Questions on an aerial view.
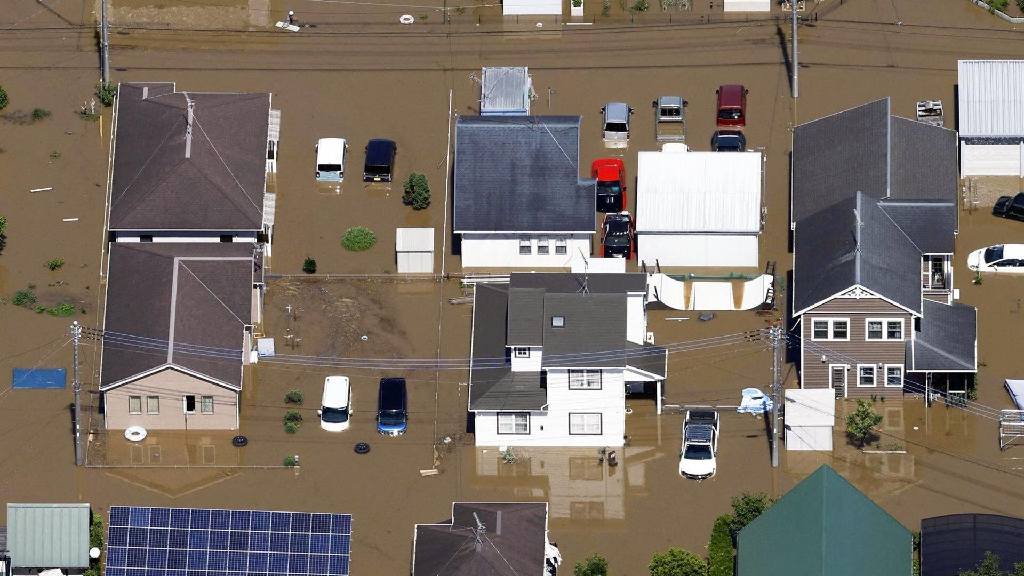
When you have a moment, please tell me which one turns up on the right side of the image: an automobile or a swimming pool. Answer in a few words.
automobile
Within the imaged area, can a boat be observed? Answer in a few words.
No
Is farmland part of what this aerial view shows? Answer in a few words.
No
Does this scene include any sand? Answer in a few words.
No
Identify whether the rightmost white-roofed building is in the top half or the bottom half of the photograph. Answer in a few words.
top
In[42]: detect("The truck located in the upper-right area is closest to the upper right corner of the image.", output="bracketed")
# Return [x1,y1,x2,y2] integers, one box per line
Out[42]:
[917,103,943,127]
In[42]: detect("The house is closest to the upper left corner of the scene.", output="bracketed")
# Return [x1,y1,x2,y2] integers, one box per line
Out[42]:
[108,78,279,259]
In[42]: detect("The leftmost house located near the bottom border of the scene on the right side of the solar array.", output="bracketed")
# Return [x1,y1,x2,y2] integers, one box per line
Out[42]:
[412,502,549,576]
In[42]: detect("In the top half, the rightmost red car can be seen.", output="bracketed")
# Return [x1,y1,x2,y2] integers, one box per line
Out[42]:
[715,85,750,126]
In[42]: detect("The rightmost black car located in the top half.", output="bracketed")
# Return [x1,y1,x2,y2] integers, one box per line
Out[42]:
[988,185,1024,218]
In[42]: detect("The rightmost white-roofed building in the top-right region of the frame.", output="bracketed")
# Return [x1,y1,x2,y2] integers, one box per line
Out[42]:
[957,58,1024,177]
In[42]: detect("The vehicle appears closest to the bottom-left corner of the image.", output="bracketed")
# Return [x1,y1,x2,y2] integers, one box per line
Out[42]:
[316,374,354,429]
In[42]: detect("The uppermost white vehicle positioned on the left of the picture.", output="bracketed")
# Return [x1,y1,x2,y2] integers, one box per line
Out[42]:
[314,138,349,181]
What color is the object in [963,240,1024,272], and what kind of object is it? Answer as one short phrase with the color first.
white car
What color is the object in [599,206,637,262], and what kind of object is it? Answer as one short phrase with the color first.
black car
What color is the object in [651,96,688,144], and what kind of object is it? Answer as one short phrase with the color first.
gray truck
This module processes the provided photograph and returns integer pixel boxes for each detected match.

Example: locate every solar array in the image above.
[100,506,356,576]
